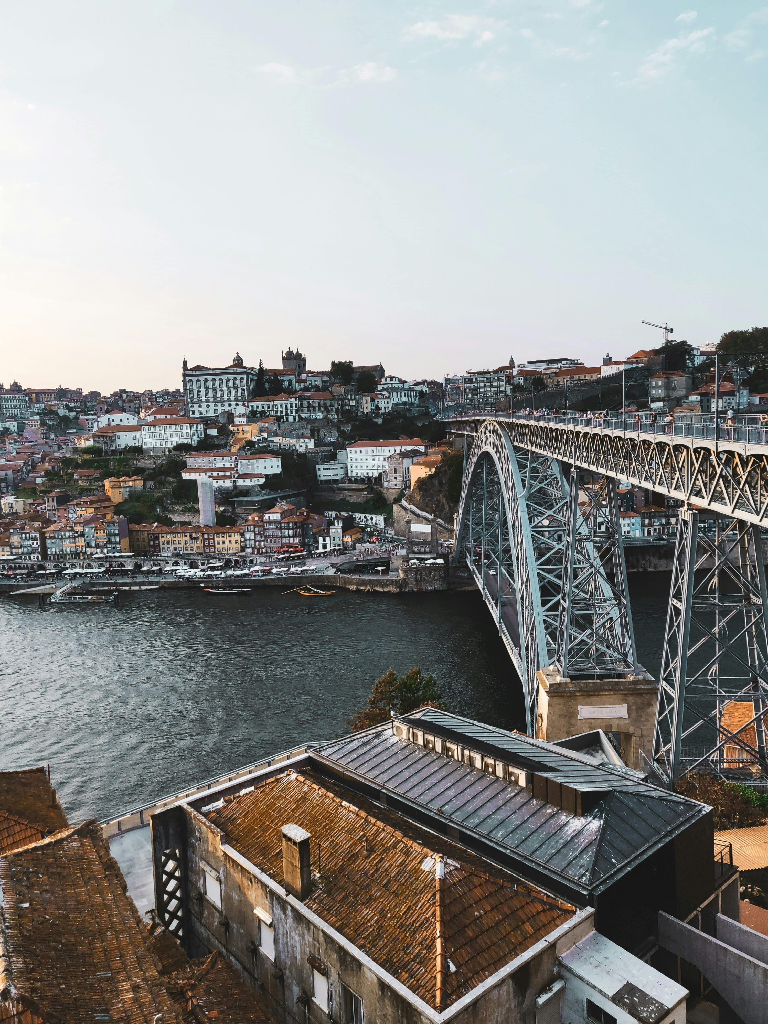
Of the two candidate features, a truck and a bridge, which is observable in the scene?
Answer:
bridge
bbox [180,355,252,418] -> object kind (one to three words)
building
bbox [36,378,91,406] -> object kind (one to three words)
building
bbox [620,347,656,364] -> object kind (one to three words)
house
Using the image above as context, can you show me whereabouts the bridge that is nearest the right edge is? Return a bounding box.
[439,407,768,789]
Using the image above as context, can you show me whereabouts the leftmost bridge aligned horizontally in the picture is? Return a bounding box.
[328,556,399,575]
